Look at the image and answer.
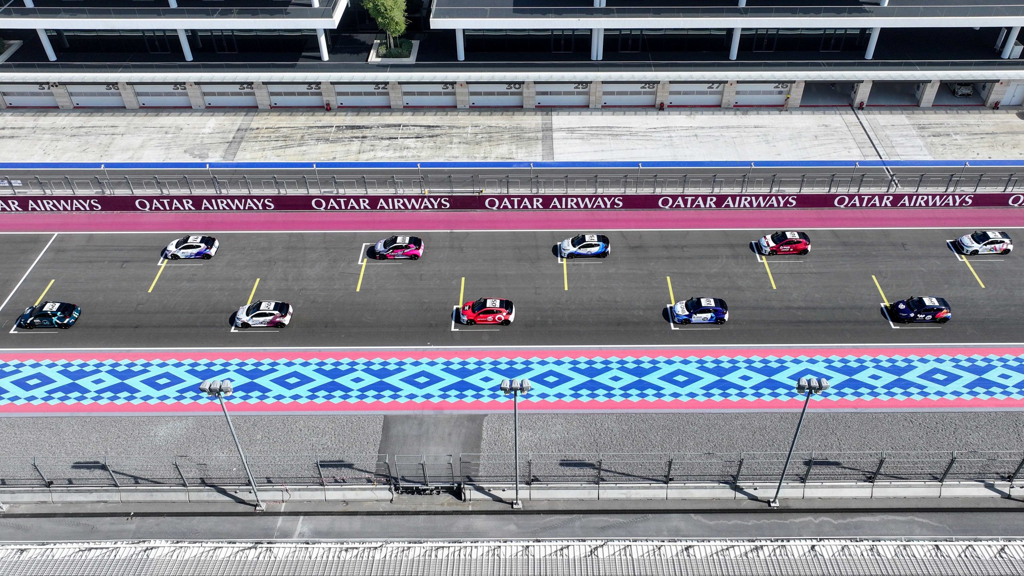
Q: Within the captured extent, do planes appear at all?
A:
No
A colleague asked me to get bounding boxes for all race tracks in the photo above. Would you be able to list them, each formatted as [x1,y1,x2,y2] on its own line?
[0,229,1024,350]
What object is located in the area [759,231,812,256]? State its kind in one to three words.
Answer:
car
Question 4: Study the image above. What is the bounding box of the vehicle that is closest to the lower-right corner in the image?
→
[891,295,953,324]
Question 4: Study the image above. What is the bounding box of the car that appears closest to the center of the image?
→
[459,297,514,326]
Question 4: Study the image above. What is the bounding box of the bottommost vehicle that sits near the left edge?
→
[19,300,81,329]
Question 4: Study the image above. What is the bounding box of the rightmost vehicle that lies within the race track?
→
[958,230,1015,255]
